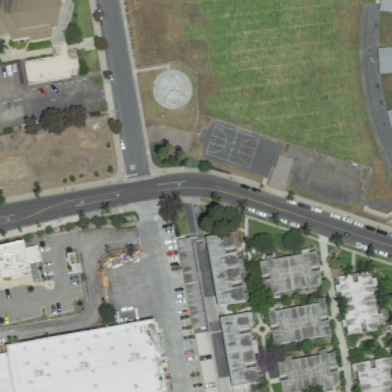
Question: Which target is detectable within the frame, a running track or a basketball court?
basketball court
